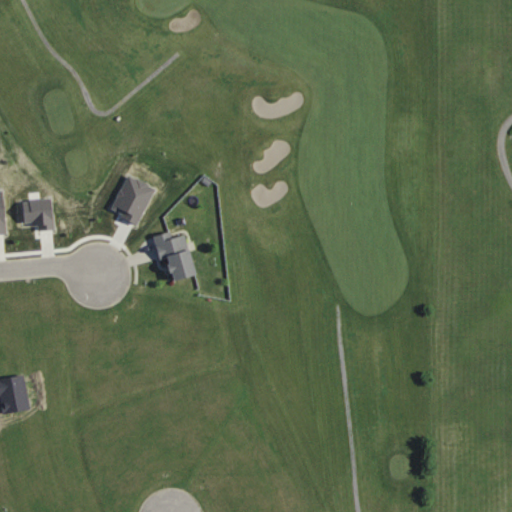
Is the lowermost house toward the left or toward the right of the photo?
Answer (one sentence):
It is on the left.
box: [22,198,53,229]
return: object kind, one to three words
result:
house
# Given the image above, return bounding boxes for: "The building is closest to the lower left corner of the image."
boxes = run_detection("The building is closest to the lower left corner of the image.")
[0,376,29,415]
